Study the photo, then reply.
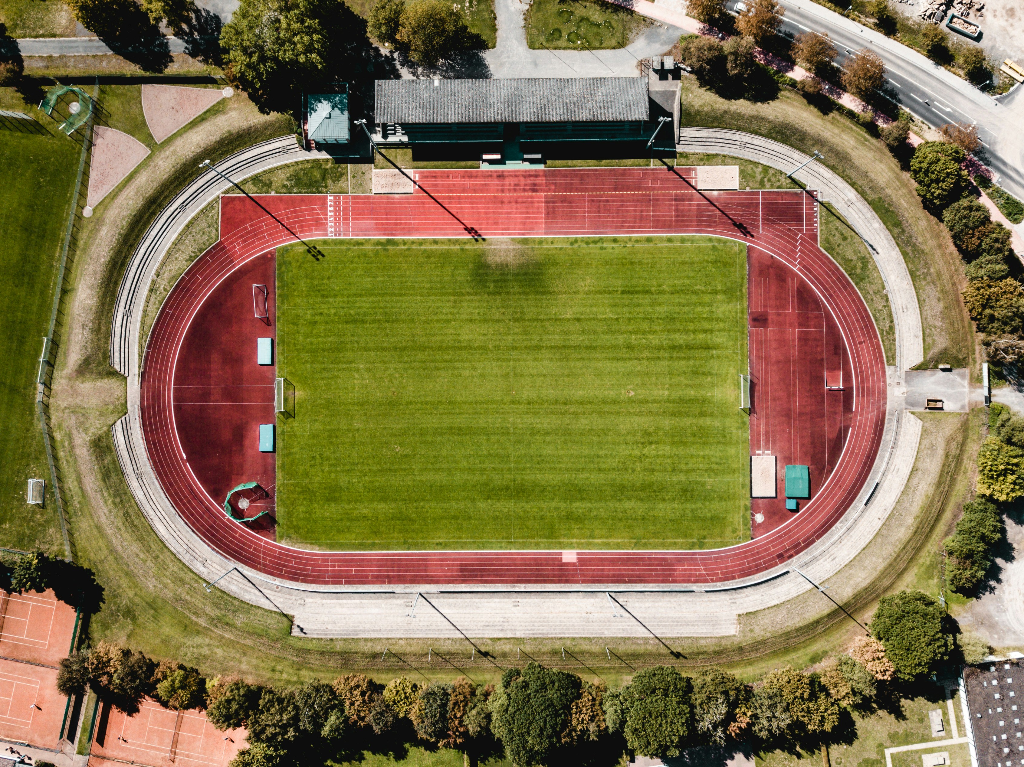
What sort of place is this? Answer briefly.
sports ground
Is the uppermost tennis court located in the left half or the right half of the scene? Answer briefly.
left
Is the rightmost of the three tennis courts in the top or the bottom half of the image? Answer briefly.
bottom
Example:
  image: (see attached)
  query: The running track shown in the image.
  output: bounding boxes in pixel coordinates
[138,164,889,587]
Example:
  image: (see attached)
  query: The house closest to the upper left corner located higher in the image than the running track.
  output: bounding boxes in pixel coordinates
[308,94,349,142]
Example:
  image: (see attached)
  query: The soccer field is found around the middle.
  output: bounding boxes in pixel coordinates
[275,235,751,551]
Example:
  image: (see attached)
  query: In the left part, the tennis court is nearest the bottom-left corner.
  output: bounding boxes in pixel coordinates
[0,659,70,750]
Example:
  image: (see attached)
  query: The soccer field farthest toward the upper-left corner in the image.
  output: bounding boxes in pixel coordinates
[0,121,82,555]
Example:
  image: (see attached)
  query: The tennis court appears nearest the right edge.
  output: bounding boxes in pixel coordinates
[88,694,250,767]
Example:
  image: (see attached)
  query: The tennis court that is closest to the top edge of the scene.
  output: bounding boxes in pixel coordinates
[0,583,77,668]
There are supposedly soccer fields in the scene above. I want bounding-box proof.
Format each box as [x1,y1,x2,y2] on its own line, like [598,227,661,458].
[0,121,82,555]
[275,235,751,551]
